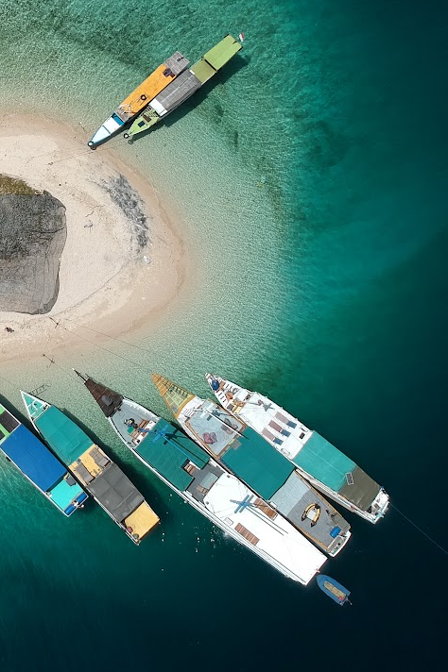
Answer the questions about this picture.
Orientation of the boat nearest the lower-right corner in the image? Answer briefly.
at an angle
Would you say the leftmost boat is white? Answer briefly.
No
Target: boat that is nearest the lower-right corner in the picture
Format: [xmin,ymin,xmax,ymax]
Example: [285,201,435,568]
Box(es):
[314,573,352,605]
